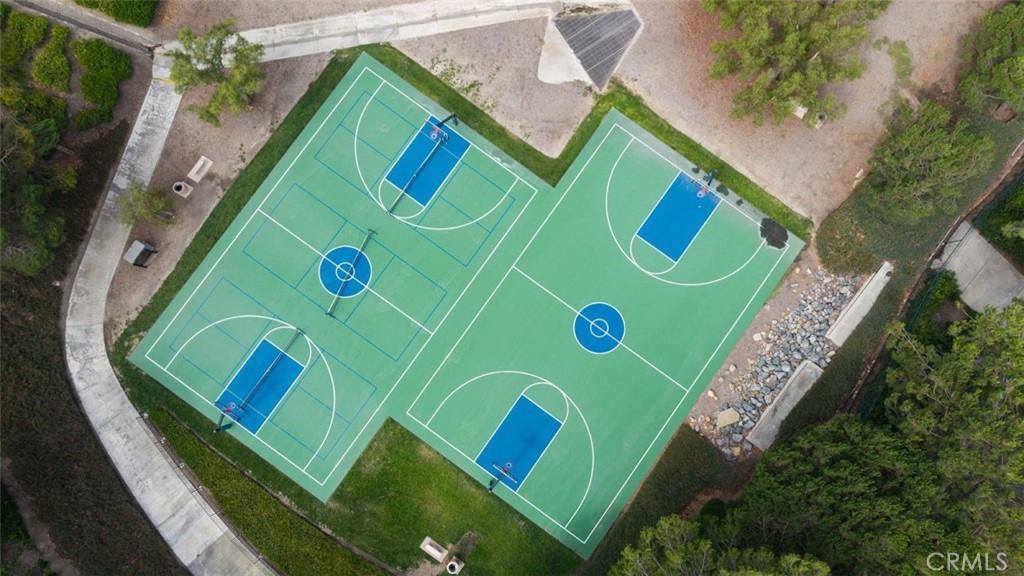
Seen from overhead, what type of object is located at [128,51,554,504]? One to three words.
basketball court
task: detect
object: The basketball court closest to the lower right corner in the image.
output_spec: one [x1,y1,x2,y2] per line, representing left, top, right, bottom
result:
[389,107,805,559]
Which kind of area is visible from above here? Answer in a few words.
sports ground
